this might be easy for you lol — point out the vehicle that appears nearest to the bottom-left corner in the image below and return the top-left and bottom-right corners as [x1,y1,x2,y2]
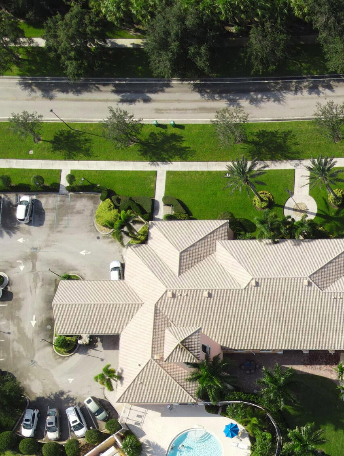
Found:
[21,409,42,438]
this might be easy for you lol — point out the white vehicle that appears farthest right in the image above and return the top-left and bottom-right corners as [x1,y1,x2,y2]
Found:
[109,257,125,280]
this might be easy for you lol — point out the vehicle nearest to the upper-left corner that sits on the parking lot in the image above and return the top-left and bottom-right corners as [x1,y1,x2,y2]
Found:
[17,198,34,223]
